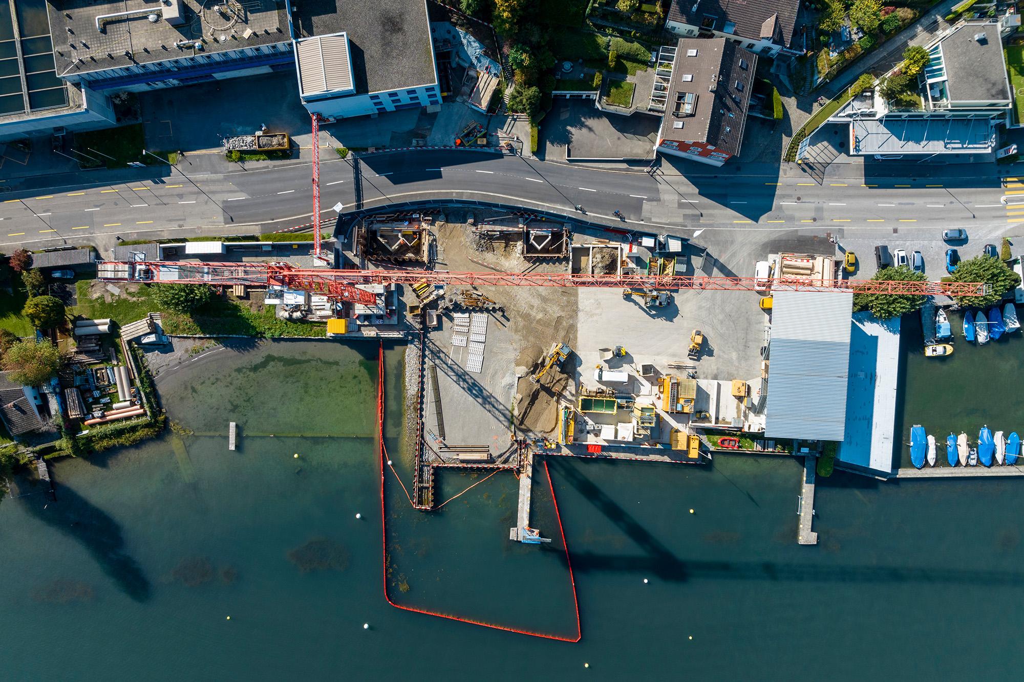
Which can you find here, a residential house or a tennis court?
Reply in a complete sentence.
This aerial view contains a residential house.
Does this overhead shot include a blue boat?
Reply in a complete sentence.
Yes, the picture does show a blue boat.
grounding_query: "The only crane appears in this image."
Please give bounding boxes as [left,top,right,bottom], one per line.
[95,251,992,323]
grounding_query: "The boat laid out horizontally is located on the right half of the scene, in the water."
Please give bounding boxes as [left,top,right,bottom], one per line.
[923,344,953,358]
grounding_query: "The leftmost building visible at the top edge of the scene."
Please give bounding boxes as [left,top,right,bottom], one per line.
[0,0,296,143]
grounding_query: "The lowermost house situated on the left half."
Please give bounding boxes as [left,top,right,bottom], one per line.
[0,373,53,435]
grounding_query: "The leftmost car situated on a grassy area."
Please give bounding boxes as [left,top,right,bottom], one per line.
[52,268,75,280]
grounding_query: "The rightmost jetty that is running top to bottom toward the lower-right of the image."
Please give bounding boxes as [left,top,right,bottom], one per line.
[797,456,817,544]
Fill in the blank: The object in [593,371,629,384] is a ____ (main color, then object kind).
white vehicle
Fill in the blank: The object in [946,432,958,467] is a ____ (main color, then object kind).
blue boat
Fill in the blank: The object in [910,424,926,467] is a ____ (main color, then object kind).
blue boat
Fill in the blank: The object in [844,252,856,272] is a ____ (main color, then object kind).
yellow vehicle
